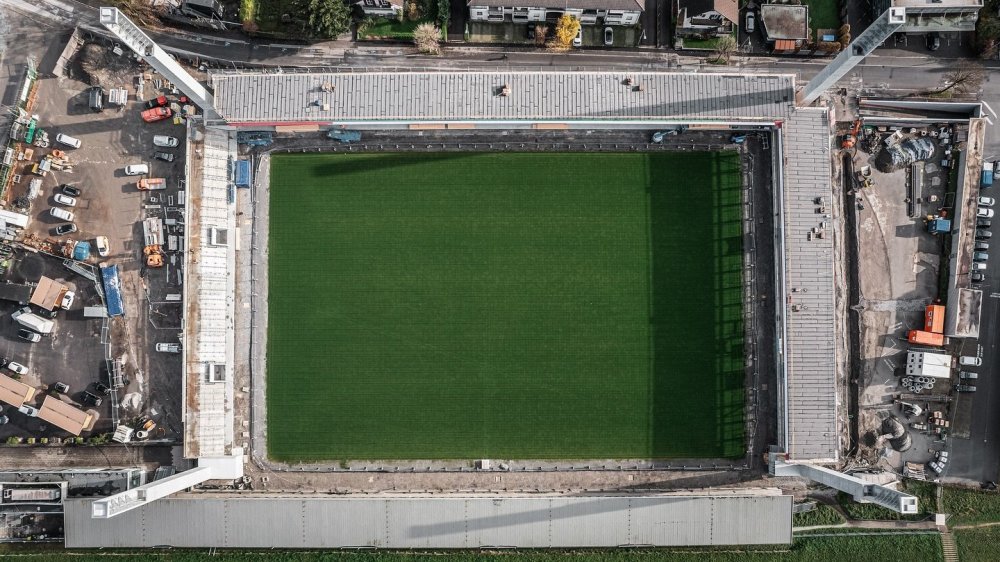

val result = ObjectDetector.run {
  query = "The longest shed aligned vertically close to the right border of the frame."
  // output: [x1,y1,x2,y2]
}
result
[948,117,986,288]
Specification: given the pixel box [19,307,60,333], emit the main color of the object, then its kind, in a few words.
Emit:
white truck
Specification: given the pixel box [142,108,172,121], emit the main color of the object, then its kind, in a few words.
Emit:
red vehicle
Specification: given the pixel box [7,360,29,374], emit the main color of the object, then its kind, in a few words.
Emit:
white car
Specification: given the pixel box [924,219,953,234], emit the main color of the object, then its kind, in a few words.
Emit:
blue vehicle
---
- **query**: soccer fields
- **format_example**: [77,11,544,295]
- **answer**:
[266,150,748,464]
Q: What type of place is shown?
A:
sports ground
